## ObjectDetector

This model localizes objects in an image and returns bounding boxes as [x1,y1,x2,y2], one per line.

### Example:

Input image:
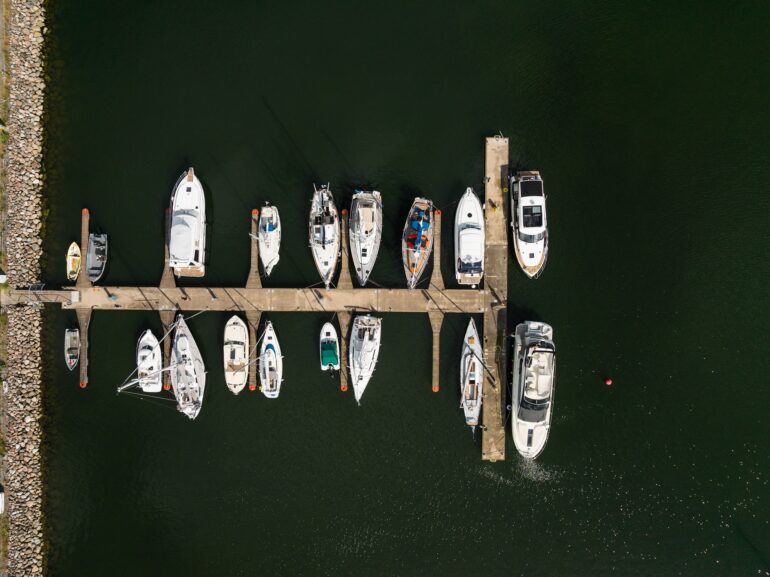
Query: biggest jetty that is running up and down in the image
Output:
[482,131,509,463]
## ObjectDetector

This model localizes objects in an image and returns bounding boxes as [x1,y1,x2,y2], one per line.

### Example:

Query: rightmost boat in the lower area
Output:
[508,320,554,461]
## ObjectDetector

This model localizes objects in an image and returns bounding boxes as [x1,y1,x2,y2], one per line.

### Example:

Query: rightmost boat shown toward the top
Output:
[506,171,550,280]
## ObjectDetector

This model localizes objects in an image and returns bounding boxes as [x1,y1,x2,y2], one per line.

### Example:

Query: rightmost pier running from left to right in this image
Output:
[64,287,482,312]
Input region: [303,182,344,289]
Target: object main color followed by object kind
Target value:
white boat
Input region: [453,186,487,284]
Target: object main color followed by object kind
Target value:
white boat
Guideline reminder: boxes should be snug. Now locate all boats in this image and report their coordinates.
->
[508,320,554,461]
[461,317,497,437]
[115,315,209,418]
[506,171,550,280]
[400,198,436,289]
[303,182,344,289]
[239,321,286,398]
[65,242,80,283]
[346,314,383,408]
[223,316,252,394]
[86,228,109,282]
[169,163,211,278]
[453,186,487,284]
[64,325,80,370]
[320,322,341,373]
[247,203,283,276]
[347,190,384,287]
